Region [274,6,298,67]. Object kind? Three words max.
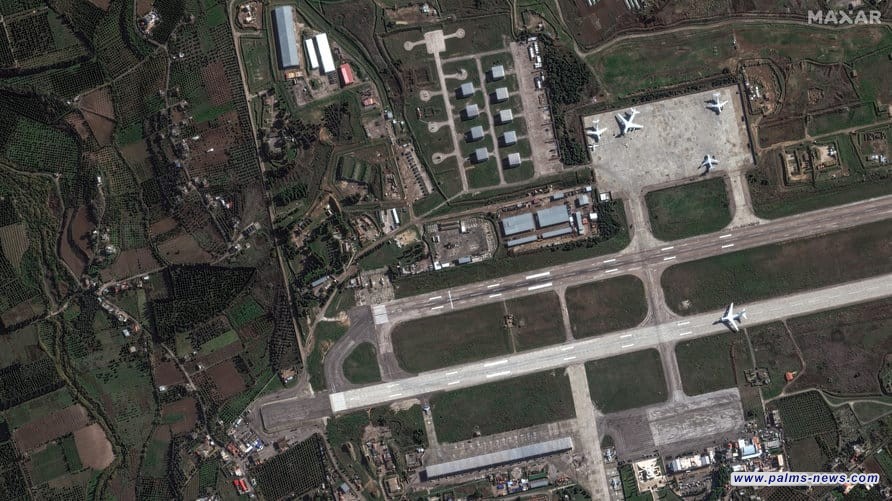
barn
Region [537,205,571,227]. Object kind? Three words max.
building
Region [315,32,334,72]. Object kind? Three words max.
shed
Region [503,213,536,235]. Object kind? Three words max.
building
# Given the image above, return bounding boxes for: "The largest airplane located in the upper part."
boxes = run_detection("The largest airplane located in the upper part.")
[618,107,645,133]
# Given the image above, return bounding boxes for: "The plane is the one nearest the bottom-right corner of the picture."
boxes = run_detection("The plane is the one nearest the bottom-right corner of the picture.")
[722,301,747,328]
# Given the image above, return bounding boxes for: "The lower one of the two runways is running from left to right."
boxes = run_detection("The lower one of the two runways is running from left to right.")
[329,275,892,412]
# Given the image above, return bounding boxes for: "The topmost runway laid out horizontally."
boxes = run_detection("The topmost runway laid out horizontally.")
[372,195,892,324]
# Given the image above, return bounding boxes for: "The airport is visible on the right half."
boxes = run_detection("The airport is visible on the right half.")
[238,20,892,501]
